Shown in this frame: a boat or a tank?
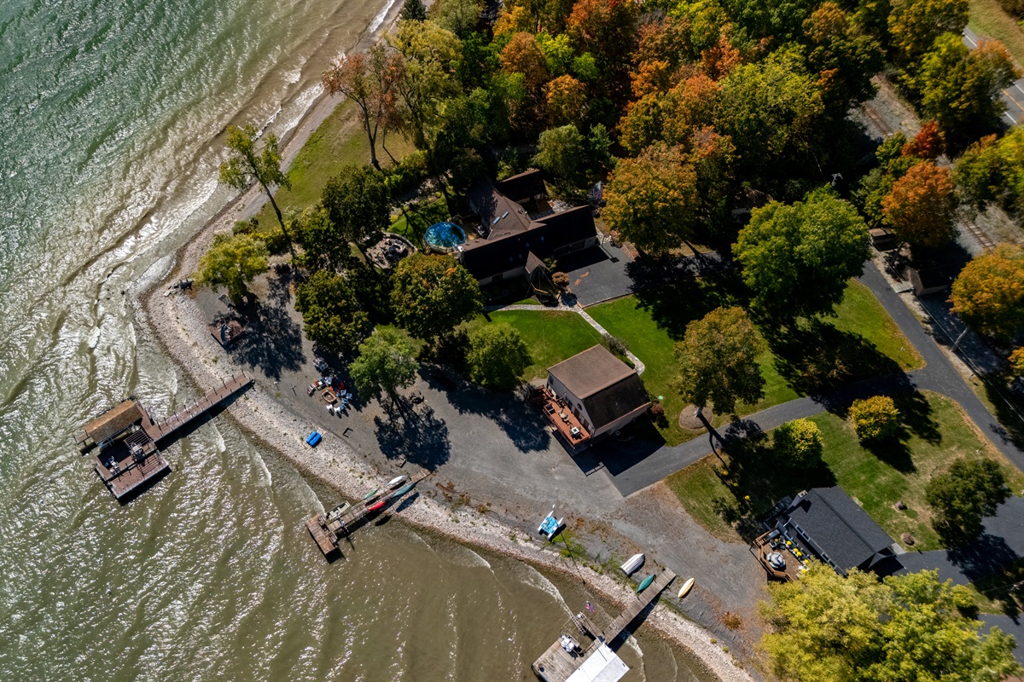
boat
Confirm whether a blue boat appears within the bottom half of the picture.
Yes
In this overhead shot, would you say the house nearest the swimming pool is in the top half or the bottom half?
top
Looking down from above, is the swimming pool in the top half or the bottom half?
top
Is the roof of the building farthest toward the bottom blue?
No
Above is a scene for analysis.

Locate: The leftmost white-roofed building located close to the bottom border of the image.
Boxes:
[566,643,629,682]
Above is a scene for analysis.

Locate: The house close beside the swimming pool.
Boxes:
[456,170,598,288]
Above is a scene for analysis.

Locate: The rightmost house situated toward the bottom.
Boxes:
[761,486,897,577]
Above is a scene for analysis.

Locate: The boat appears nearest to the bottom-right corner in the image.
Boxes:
[679,578,694,598]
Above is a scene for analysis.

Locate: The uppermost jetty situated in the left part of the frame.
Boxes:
[70,367,256,502]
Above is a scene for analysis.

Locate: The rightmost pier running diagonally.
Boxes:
[531,569,676,682]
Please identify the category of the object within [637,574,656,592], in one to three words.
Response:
boat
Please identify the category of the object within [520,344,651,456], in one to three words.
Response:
house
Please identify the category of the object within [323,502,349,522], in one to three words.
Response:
boat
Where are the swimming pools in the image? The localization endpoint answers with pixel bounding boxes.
[419,219,466,256]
